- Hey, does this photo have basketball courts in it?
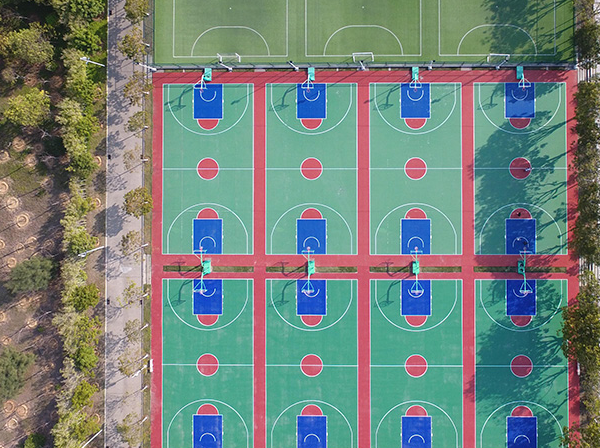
Yes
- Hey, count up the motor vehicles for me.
zero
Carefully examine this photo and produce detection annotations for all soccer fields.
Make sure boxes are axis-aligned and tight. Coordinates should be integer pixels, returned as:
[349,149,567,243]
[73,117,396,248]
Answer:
[155,0,297,64]
[430,0,576,63]
[297,0,430,63]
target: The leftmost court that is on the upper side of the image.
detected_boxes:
[150,69,260,267]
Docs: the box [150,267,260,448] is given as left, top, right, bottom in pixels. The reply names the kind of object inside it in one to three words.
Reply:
basketball court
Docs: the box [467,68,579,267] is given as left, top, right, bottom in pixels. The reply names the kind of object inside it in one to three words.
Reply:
basketball court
